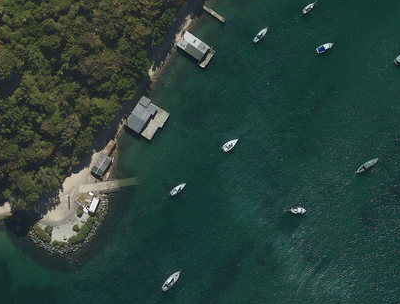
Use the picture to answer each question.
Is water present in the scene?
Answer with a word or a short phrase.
Yes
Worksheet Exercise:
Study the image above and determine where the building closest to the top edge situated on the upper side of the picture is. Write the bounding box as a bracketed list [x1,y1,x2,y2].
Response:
[177,31,216,68]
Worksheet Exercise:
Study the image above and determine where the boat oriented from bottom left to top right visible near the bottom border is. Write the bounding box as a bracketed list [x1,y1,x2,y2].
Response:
[162,269,182,292]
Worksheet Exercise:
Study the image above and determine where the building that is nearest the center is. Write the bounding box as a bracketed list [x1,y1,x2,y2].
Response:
[126,96,170,140]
